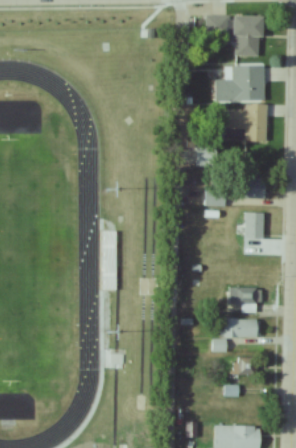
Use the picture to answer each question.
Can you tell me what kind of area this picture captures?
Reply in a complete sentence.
This image shows a sports ground.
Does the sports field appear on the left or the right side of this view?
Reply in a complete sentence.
The sports field sits on the left side.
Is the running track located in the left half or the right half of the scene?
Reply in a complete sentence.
The running track is on the left side of the image.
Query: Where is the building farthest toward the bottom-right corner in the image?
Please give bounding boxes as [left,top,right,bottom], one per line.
[212,423,262,448]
